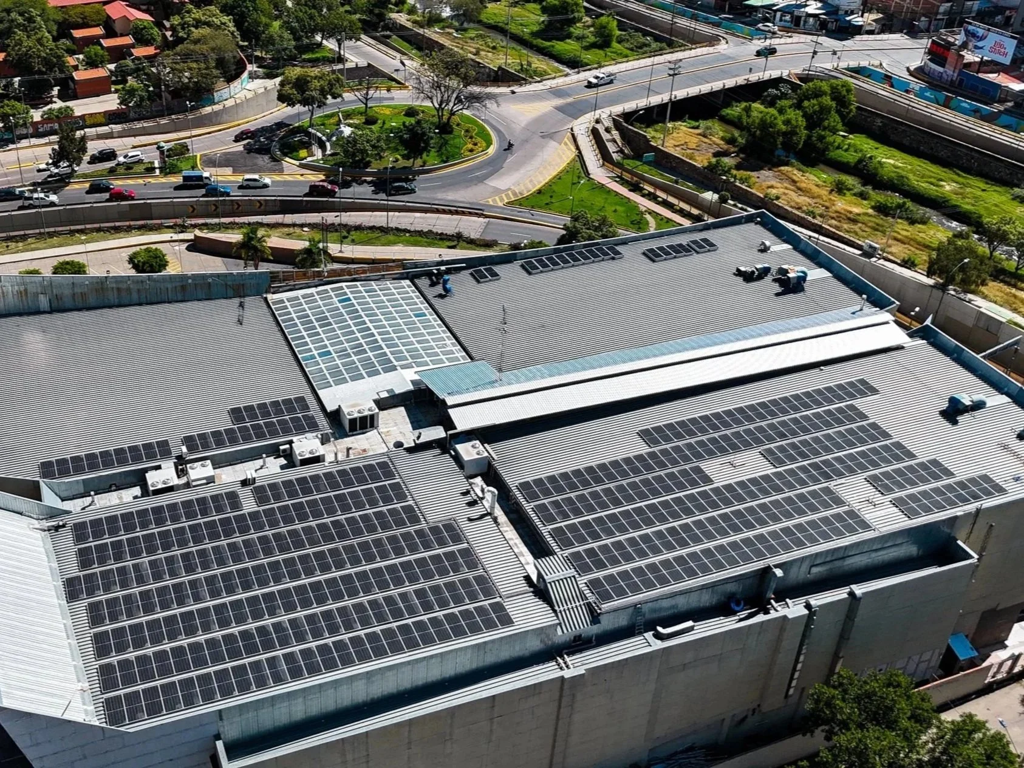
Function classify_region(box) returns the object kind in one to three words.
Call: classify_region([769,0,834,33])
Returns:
building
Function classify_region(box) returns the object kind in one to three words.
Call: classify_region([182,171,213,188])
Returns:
vehicle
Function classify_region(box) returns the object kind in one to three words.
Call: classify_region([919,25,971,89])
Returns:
building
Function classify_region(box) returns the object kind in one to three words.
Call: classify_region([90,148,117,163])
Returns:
car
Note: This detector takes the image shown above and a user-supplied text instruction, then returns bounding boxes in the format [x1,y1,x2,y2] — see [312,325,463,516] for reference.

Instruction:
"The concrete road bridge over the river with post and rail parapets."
[529,36,783,128]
